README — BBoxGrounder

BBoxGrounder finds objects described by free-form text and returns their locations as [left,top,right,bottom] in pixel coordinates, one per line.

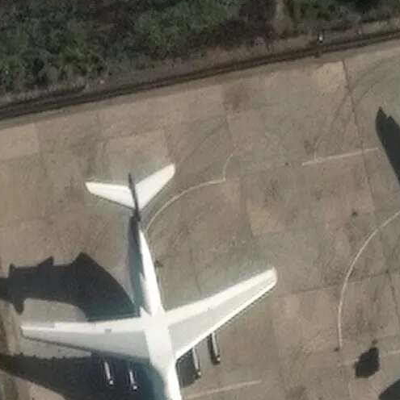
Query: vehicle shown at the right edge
[361,348,381,373]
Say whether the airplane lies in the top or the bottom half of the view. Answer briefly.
bottom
